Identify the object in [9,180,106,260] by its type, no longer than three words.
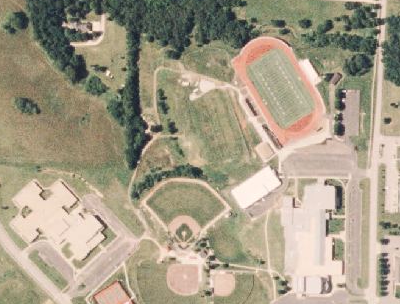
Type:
building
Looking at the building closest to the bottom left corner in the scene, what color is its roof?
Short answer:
white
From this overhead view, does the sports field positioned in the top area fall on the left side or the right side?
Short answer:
right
